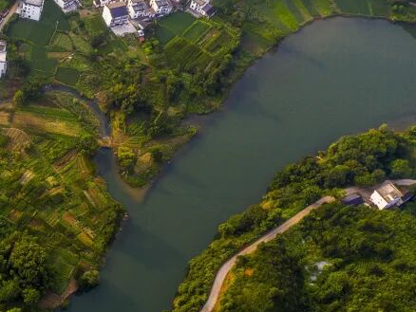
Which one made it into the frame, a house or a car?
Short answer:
house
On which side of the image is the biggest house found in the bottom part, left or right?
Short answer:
right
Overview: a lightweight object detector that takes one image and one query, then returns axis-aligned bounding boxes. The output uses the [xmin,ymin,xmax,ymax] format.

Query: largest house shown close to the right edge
[370,179,408,210]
